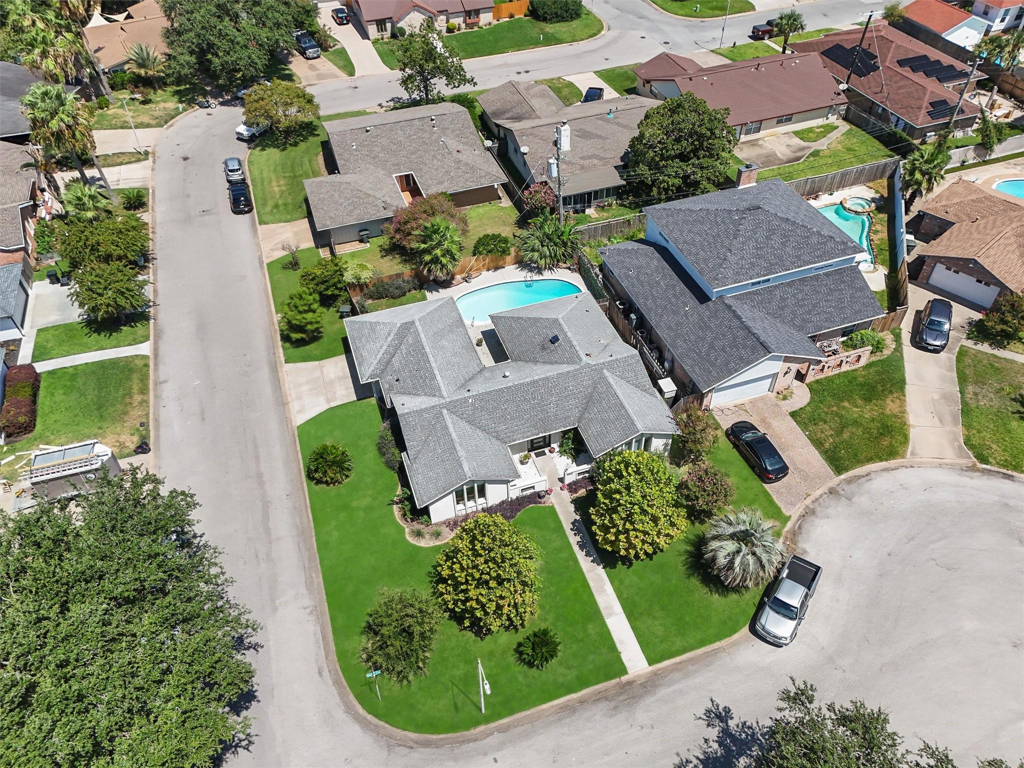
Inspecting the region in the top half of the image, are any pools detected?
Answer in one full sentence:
Yes, there is a pool in the top half of the image.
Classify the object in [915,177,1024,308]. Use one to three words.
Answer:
house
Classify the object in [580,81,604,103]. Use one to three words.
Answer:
car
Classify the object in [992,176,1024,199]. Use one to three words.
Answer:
swimming pool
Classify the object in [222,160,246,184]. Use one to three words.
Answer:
car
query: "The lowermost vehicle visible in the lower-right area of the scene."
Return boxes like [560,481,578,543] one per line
[756,556,820,649]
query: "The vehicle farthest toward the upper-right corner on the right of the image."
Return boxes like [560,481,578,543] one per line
[749,21,787,40]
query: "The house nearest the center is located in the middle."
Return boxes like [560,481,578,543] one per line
[342,291,682,520]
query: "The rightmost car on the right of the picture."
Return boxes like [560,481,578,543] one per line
[915,294,960,352]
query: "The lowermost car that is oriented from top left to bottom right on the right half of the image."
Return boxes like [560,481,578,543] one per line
[728,422,789,483]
